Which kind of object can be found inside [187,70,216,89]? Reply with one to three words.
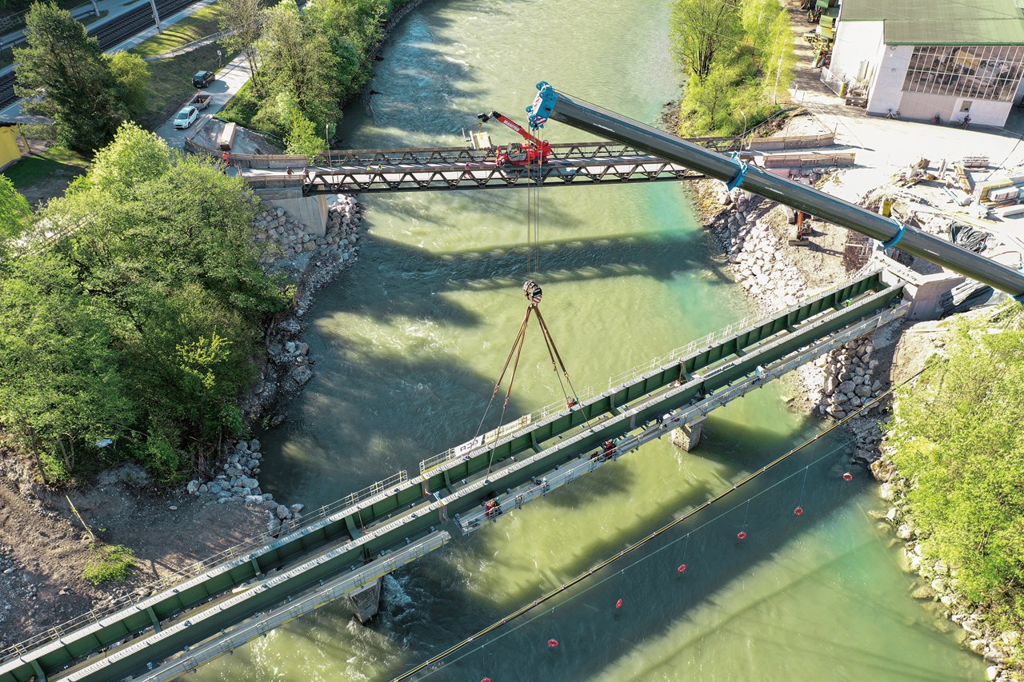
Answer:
car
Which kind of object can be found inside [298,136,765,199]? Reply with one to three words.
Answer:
bridge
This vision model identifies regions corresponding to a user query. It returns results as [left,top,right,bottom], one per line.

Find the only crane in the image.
[522,80,1024,308]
